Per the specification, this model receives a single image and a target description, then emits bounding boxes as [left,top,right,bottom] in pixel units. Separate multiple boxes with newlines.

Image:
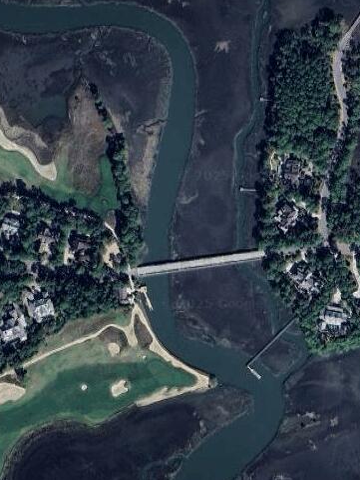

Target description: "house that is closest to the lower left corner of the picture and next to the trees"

[0,303,30,342]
